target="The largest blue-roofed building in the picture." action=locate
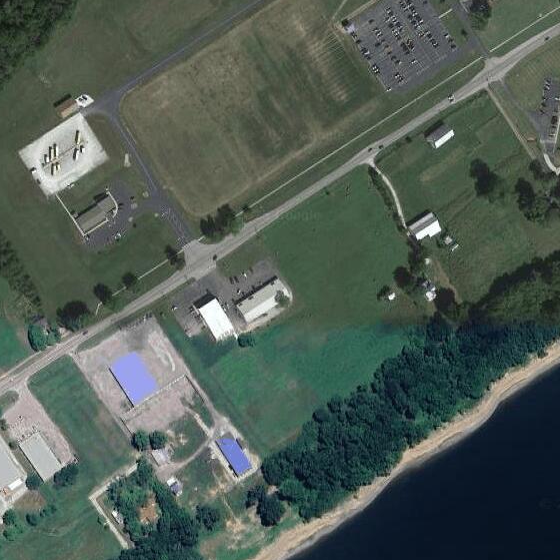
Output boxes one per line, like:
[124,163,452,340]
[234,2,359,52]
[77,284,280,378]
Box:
[110,352,157,407]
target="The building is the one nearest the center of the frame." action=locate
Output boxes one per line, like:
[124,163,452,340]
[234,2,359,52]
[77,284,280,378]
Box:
[237,279,284,323]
